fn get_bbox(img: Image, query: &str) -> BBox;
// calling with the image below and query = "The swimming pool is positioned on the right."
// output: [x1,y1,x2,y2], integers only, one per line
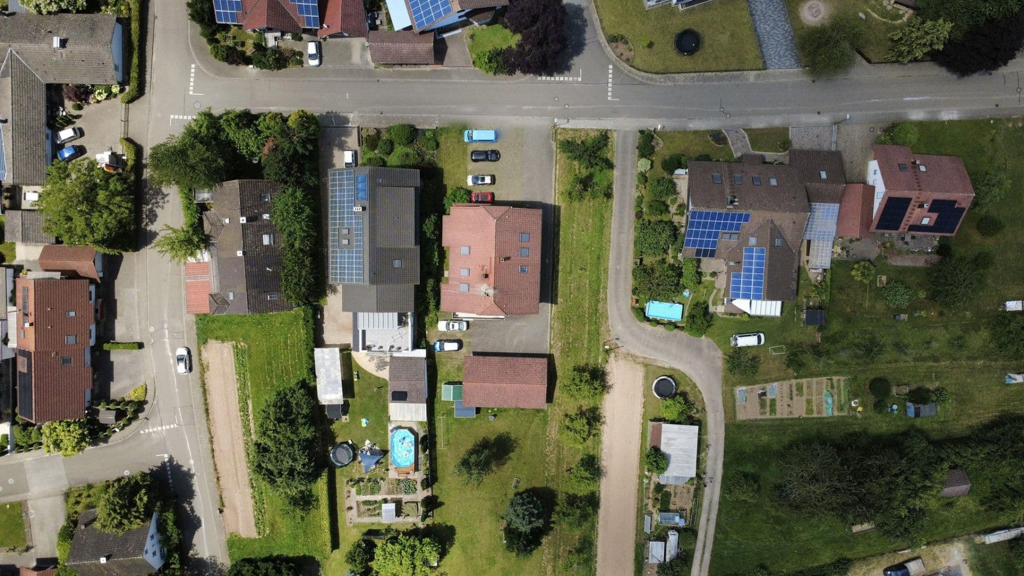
[645,299,683,323]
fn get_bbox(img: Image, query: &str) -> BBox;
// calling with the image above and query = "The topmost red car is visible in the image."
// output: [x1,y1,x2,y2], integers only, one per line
[470,190,495,203]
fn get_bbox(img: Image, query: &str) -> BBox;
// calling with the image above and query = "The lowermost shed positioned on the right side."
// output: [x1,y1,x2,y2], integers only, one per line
[648,539,664,562]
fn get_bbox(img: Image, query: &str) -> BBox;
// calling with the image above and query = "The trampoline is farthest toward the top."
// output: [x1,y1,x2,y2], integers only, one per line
[674,26,702,56]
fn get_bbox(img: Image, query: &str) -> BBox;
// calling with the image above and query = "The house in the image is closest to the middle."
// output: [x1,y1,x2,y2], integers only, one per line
[441,202,542,322]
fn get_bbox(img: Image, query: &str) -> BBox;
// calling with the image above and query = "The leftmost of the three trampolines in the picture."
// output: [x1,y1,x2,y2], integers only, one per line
[328,442,355,470]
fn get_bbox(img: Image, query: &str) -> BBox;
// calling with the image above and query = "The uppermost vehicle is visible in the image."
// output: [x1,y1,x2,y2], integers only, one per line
[306,39,321,67]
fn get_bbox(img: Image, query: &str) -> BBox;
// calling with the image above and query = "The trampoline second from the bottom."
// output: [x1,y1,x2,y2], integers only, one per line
[653,376,676,399]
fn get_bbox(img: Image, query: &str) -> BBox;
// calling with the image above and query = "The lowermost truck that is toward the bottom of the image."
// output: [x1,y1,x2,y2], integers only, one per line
[884,555,926,576]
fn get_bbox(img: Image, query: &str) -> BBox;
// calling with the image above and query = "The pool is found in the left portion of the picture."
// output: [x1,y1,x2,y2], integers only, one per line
[391,427,417,479]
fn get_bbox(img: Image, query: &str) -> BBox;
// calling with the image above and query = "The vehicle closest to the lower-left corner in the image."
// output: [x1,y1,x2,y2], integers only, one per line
[176,347,190,375]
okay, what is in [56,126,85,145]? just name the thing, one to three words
car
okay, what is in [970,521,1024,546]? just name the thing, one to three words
trailer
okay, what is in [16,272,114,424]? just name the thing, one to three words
house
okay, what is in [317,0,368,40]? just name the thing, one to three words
building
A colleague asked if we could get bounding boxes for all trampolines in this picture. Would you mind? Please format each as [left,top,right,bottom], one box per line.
[328,442,355,470]
[674,26,702,56]
[653,376,676,399]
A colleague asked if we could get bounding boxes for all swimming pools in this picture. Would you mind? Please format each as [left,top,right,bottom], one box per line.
[391,427,417,479]
[645,299,683,323]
